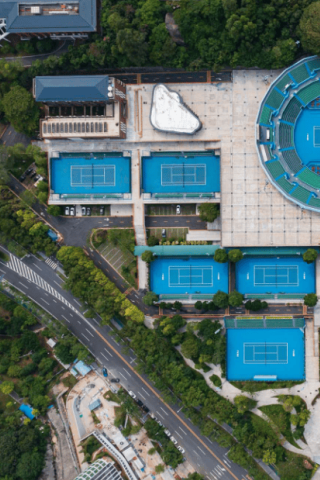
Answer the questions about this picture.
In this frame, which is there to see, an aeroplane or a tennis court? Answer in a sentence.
It is a tennis court that can be seen here.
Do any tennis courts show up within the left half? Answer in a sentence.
Yes, a tennis court shows up within the left half.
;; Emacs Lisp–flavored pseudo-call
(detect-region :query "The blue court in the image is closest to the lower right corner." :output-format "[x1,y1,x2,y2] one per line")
[227,329,304,381]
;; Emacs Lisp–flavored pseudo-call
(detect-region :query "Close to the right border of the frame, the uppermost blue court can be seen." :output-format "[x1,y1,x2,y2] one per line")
[237,257,314,293]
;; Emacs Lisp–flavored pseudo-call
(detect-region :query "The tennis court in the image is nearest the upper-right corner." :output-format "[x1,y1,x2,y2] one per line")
[143,156,218,192]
